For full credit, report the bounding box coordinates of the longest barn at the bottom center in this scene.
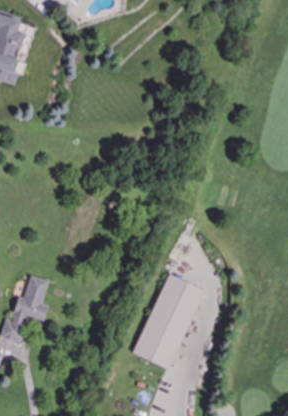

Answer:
[135,275,202,368]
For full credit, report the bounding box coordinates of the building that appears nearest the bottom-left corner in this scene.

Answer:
[0,274,52,348]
